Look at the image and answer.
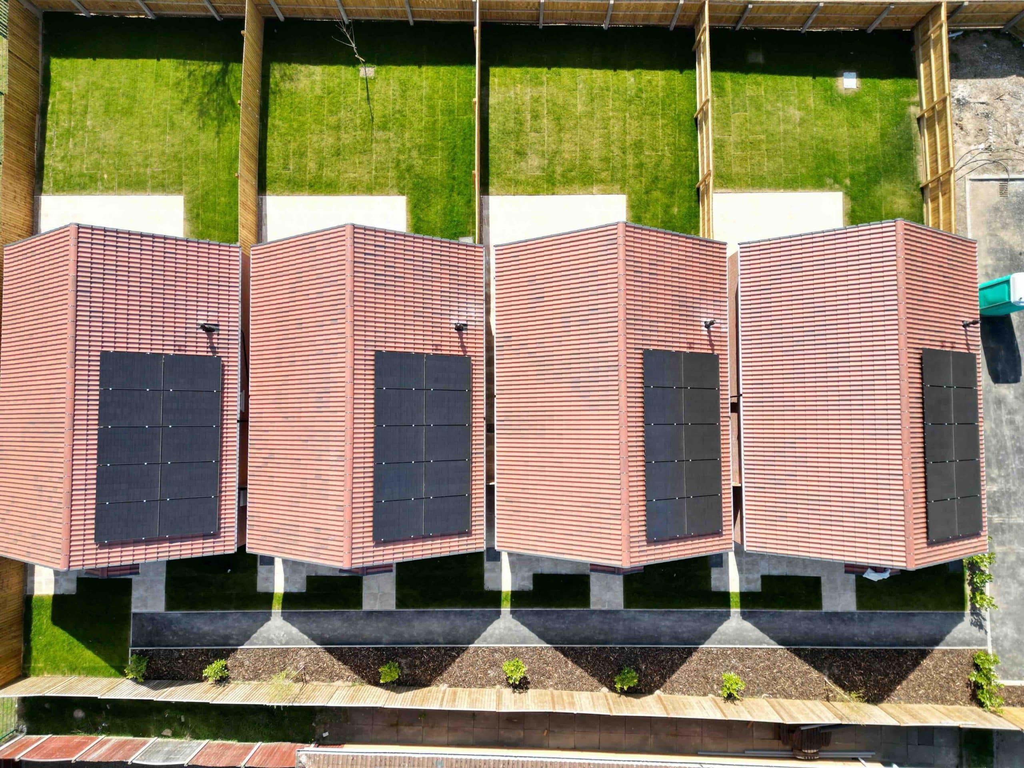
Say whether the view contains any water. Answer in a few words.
No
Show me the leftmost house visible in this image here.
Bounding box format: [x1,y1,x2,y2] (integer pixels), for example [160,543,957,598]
[0,223,250,578]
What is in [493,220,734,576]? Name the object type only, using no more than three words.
house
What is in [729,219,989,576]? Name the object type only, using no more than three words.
house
